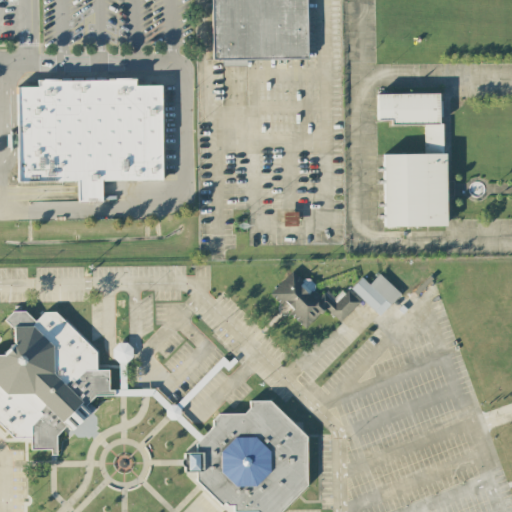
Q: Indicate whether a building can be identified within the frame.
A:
Yes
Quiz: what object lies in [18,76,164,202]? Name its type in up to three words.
building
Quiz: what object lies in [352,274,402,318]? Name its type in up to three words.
barn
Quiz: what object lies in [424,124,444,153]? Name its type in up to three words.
building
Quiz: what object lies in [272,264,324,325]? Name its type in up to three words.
house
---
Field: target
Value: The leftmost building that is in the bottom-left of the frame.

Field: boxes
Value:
[0,311,110,455]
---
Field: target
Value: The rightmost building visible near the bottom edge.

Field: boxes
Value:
[199,400,308,512]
